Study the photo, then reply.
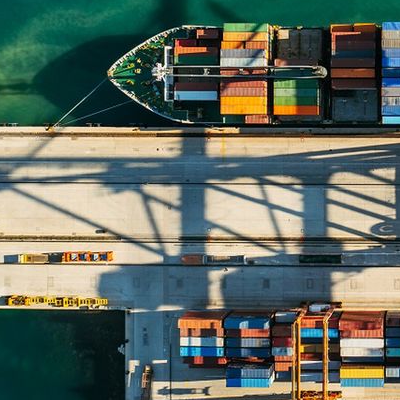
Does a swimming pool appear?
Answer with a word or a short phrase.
No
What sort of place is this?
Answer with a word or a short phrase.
port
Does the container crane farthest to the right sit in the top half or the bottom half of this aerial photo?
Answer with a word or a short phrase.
bottom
